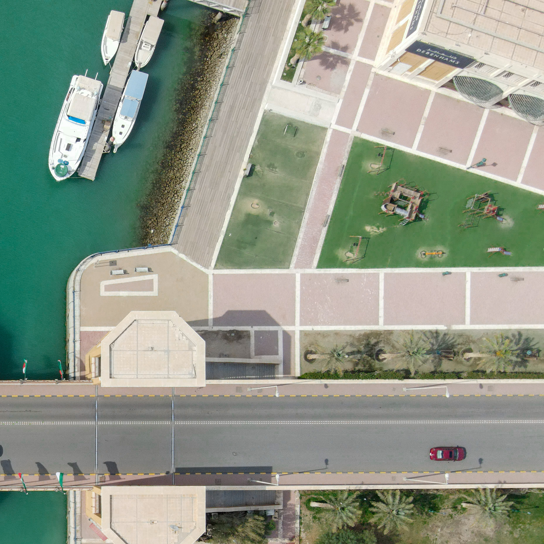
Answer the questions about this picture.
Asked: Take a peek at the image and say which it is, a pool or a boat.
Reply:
boat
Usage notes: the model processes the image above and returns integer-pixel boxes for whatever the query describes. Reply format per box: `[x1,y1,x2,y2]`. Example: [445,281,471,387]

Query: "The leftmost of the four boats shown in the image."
[49,71,101,181]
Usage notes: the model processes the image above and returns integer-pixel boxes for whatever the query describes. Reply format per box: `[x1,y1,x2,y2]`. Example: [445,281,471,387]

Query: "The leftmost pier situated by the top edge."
[78,0,161,181]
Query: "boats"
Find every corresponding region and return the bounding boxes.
[113,64,150,152]
[101,2,126,65]
[49,71,101,181]
[136,7,164,71]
